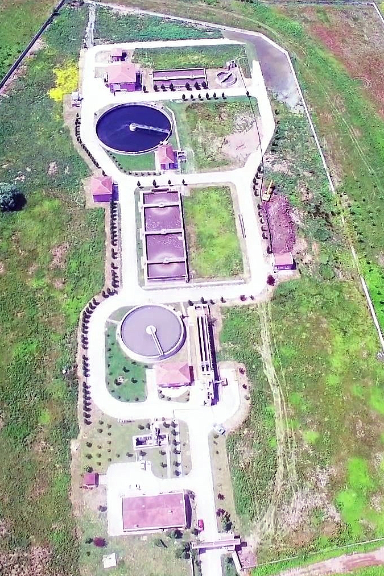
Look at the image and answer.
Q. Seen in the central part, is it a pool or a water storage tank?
water storage tank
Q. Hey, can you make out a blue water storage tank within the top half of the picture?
Yes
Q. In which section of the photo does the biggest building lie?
bottom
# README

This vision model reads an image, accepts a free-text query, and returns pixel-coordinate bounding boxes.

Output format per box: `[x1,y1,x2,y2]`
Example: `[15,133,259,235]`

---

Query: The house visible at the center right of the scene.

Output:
[271,253,292,270]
